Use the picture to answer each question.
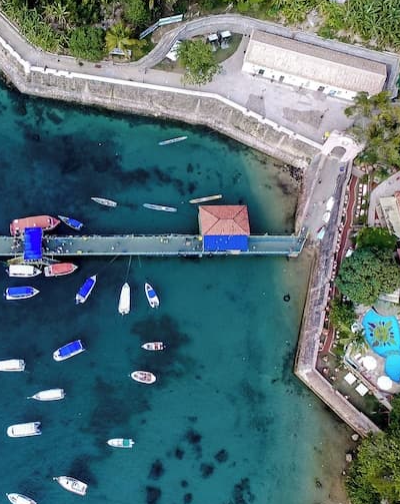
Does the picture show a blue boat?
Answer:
Yes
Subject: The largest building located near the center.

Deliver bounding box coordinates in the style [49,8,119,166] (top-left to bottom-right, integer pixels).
[197,205,250,253]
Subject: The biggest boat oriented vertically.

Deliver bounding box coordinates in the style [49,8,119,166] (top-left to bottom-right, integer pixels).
[118,282,131,316]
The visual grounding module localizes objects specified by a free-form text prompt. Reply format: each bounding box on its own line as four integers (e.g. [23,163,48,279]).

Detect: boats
[145,282,159,311]
[73,274,98,306]
[43,262,78,276]
[53,339,86,359]
[131,370,157,384]
[92,199,117,208]
[7,422,43,437]
[141,341,167,351]
[188,195,222,203]
[142,205,177,212]
[4,286,39,300]
[4,492,38,504]
[5,263,42,276]
[107,437,136,447]
[28,388,67,400]
[10,214,60,235]
[159,138,186,146]
[118,282,131,316]
[53,476,91,495]
[0,358,27,372]
[59,216,85,232]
